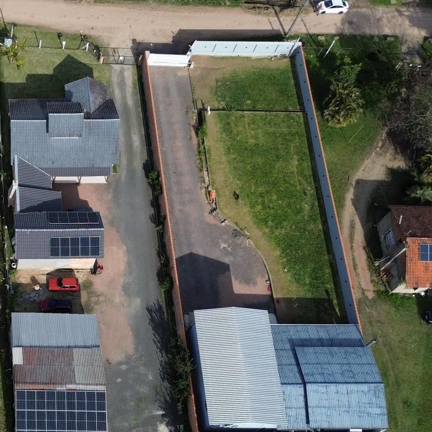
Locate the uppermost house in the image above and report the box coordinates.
[6,76,120,213]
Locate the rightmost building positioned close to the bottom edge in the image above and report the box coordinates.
[270,323,387,432]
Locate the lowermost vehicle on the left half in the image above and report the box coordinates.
[39,295,74,313]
